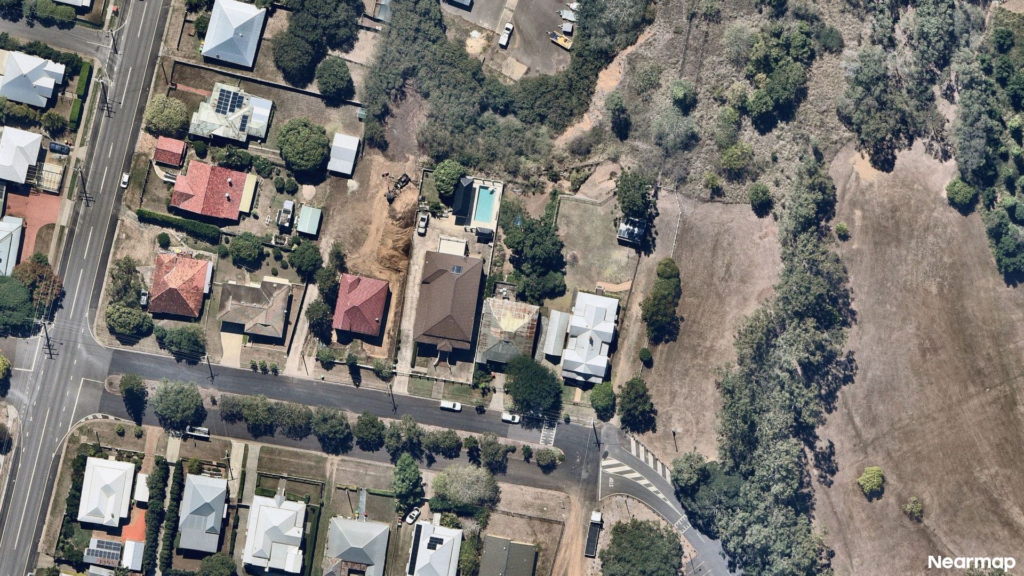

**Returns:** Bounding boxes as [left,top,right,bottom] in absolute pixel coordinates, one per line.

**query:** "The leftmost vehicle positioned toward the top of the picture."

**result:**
[48,142,71,154]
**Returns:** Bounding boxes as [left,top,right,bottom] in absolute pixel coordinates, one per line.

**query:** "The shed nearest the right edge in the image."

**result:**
[617,216,648,244]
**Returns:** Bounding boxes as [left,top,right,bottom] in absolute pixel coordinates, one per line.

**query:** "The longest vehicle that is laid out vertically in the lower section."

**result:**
[584,511,601,556]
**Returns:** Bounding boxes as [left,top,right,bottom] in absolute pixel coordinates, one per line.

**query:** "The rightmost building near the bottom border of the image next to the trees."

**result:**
[478,534,536,576]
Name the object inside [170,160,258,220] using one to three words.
house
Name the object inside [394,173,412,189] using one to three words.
vehicle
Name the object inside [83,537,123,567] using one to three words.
shed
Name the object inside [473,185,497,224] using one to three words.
swimming pool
